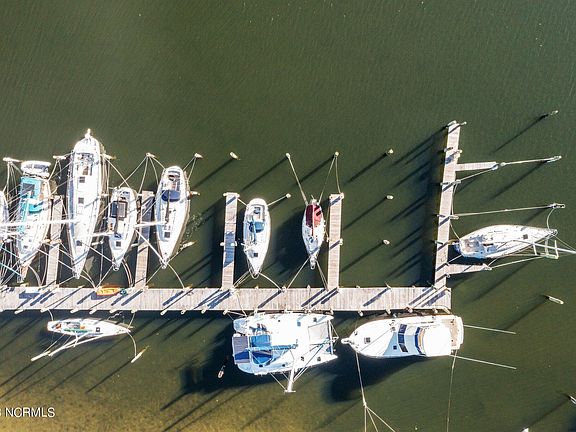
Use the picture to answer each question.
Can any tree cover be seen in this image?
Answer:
No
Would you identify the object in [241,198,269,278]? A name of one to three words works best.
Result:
boat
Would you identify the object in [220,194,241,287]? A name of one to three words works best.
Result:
pier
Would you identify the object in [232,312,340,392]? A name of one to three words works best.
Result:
boat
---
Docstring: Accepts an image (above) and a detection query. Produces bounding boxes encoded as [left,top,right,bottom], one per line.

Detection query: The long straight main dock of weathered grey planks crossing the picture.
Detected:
[0,284,454,314]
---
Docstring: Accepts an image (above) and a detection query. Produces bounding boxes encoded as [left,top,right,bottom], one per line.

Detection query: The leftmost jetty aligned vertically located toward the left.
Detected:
[43,196,66,287]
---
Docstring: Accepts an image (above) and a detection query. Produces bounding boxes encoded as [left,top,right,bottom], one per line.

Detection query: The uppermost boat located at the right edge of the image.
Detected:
[454,225,576,259]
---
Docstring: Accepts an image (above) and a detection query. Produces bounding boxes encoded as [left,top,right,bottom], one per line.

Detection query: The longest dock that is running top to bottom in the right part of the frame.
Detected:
[433,122,467,287]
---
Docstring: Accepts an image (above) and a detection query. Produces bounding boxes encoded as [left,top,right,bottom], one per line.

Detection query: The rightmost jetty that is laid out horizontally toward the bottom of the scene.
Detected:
[448,261,496,273]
